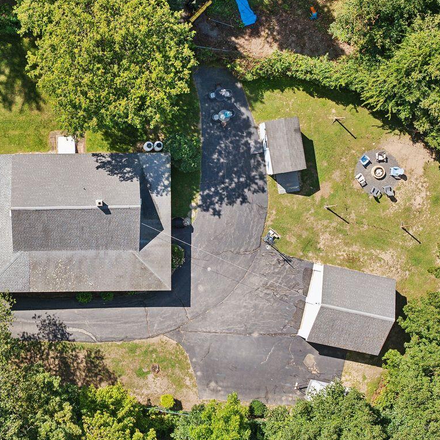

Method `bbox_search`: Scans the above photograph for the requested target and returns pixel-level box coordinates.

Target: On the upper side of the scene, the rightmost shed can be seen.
[261,116,306,175]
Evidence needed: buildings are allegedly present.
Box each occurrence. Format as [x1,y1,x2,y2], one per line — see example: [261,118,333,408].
[261,116,306,175]
[299,265,395,356]
[0,136,172,293]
